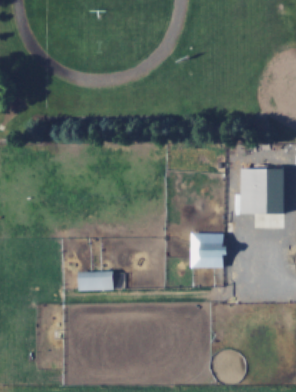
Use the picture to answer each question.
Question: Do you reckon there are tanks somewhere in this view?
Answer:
No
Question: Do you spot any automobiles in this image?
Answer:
No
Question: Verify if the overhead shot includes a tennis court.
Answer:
No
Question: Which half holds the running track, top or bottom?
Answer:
top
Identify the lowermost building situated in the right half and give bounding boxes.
[190,233,226,268]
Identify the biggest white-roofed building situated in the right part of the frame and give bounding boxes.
[236,168,284,214]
